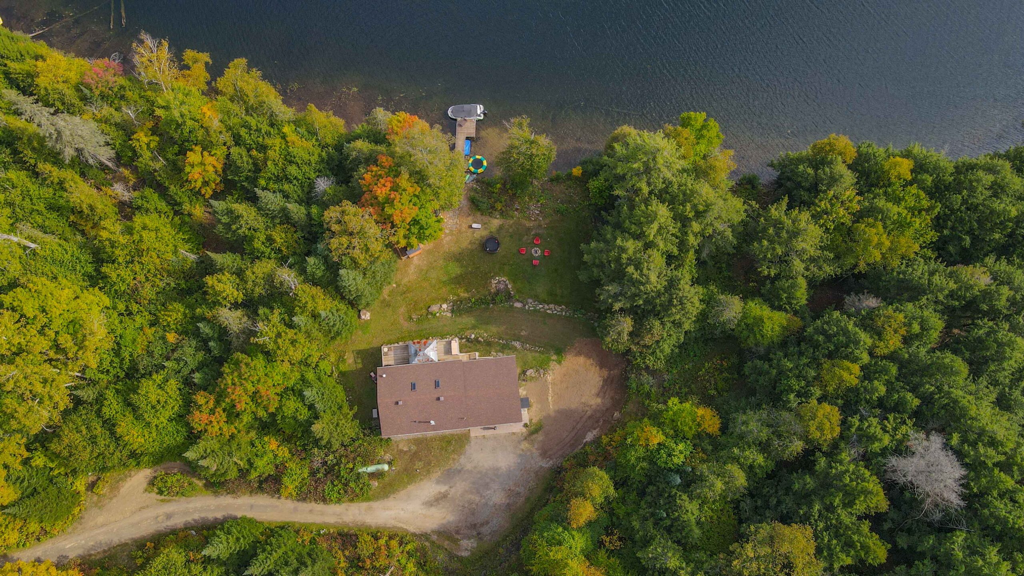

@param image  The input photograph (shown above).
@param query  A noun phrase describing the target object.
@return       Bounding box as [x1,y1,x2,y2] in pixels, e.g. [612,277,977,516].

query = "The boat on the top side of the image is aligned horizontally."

[448,104,487,120]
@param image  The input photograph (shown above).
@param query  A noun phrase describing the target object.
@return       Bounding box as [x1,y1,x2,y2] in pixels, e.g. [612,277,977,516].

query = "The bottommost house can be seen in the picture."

[377,355,522,438]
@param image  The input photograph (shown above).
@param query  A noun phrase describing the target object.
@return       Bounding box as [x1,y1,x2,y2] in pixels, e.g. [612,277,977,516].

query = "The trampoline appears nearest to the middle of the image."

[484,234,500,253]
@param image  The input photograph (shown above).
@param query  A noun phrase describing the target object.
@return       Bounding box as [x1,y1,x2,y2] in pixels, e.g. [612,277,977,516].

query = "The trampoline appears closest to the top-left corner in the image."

[469,156,486,173]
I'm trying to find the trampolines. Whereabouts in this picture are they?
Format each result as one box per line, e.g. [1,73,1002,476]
[484,234,500,253]
[469,156,486,173]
